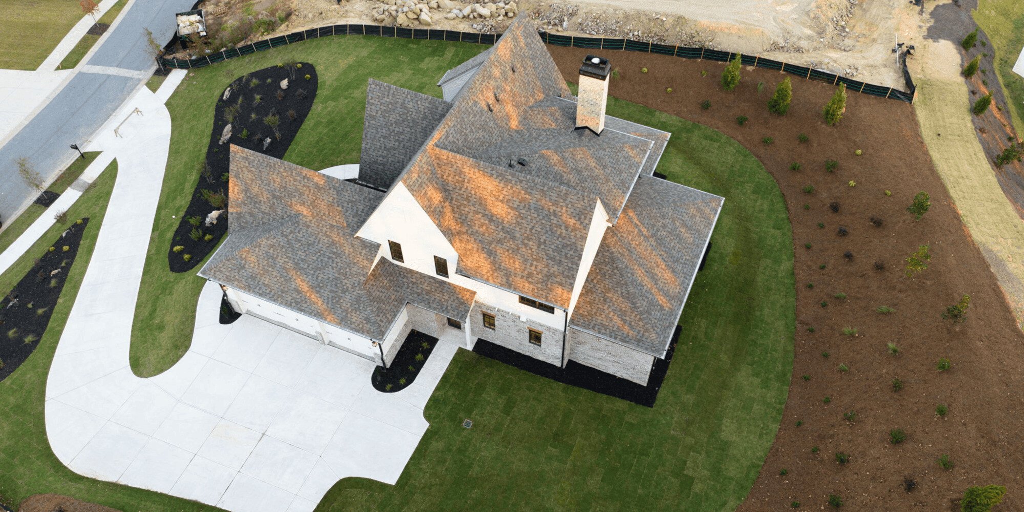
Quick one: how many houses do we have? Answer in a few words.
1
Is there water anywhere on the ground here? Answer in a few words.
No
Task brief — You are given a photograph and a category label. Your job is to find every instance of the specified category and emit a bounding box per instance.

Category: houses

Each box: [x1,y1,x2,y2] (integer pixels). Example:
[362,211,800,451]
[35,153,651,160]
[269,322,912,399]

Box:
[194,11,726,386]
